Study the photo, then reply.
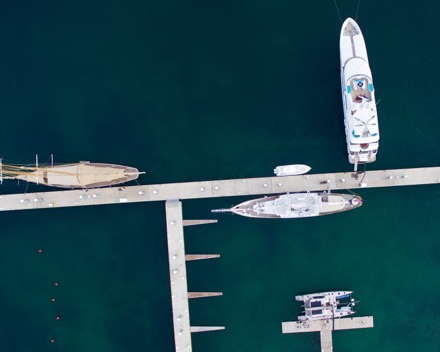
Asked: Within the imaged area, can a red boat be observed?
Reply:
No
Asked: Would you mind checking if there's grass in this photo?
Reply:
No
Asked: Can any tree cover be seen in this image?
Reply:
No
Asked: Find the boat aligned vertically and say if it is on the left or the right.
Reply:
right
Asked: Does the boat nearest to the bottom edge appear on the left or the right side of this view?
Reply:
right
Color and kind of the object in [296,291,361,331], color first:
white boat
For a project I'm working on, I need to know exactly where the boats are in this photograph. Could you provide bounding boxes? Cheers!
[296,291,361,331]
[335,0,381,174]
[211,186,364,219]
[274,164,311,175]
[0,153,144,193]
